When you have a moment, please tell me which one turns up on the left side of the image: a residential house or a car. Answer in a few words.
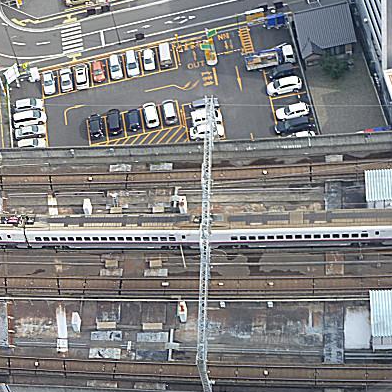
car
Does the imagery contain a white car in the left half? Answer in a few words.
Yes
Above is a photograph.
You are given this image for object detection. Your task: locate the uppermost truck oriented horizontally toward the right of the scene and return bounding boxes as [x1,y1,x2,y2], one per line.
[244,38,295,68]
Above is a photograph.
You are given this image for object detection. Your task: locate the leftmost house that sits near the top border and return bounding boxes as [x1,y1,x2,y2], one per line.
[293,1,355,80]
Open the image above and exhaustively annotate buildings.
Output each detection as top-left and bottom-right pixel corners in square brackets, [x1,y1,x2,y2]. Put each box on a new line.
[293,1,355,80]
[349,0,392,126]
